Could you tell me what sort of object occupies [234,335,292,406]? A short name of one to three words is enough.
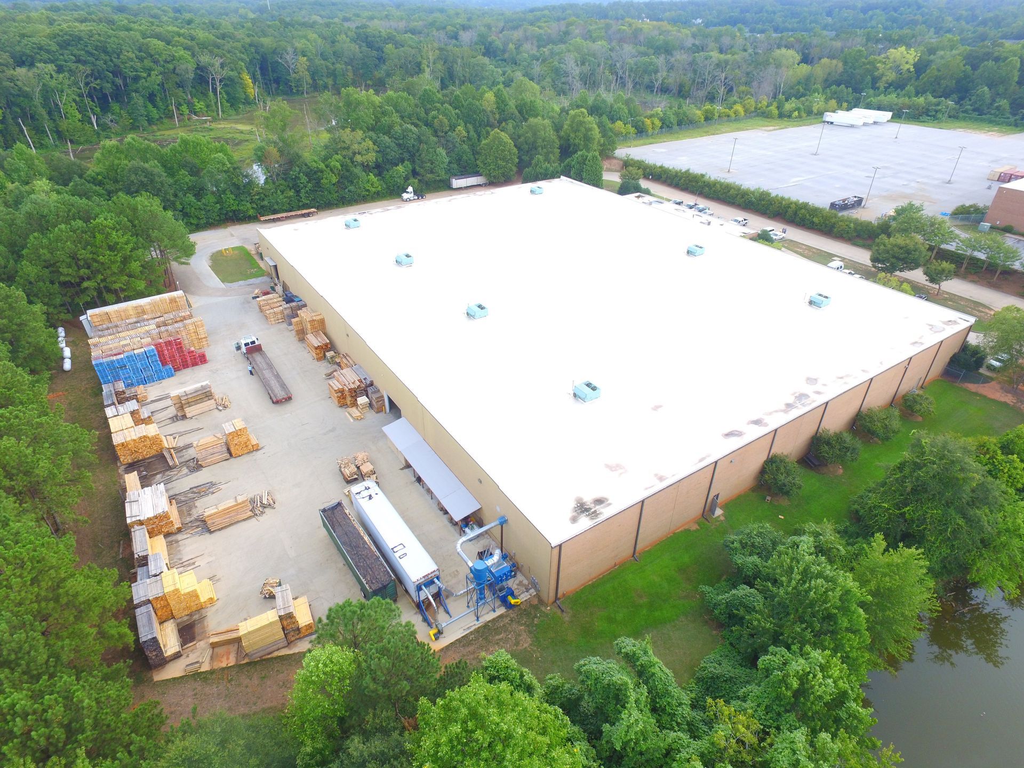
truck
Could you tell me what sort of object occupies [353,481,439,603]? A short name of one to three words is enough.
trailer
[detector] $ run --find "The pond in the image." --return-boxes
[882,499,1024,768]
